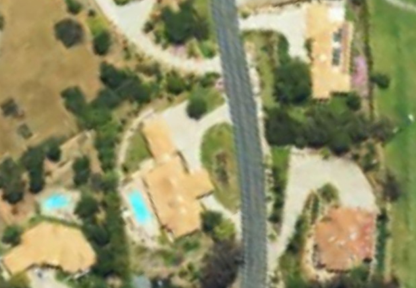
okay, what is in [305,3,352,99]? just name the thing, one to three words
house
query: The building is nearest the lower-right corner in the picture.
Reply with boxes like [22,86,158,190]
[315,207,375,271]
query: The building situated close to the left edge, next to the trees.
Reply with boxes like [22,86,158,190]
[2,219,94,275]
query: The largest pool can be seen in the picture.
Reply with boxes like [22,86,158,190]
[128,189,150,225]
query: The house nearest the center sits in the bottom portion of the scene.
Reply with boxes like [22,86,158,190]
[141,115,213,241]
